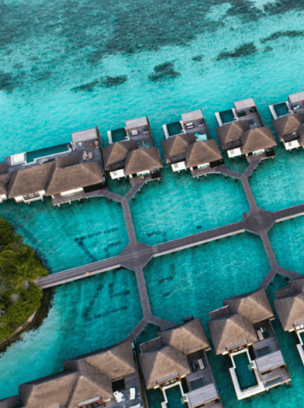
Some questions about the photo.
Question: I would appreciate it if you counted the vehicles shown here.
0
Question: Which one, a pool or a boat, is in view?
pool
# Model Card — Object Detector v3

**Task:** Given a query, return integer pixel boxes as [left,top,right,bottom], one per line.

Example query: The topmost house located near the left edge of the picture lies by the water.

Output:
[0,125,111,214]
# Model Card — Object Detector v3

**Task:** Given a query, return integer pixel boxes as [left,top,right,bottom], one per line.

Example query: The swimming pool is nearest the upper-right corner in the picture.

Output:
[270,103,293,120]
